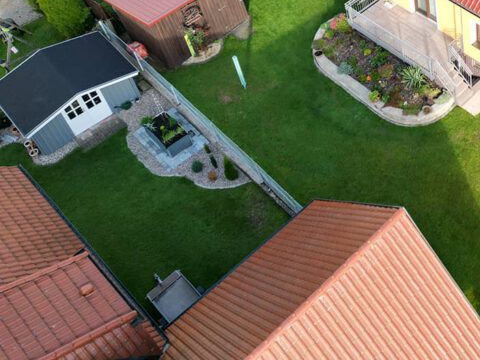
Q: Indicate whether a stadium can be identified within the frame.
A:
No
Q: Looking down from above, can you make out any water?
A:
No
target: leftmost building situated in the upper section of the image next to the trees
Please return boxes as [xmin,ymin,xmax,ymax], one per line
[0,32,148,170]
